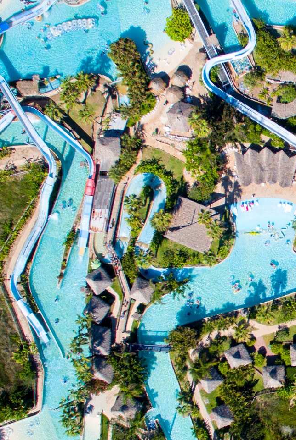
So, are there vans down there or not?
No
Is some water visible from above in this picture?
Yes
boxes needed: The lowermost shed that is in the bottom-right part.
[209,402,237,429]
